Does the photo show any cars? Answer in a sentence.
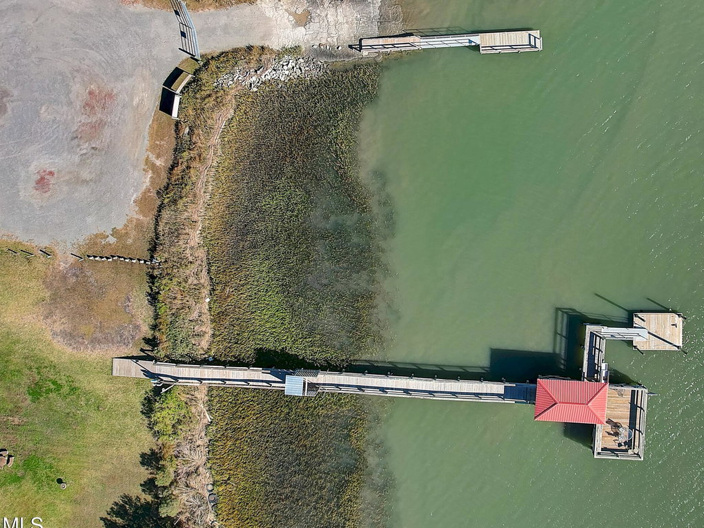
No, there appears to be no car in this shot.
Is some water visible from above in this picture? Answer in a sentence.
Yes, some water is visible.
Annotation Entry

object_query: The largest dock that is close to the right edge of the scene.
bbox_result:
[632,312,682,351]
